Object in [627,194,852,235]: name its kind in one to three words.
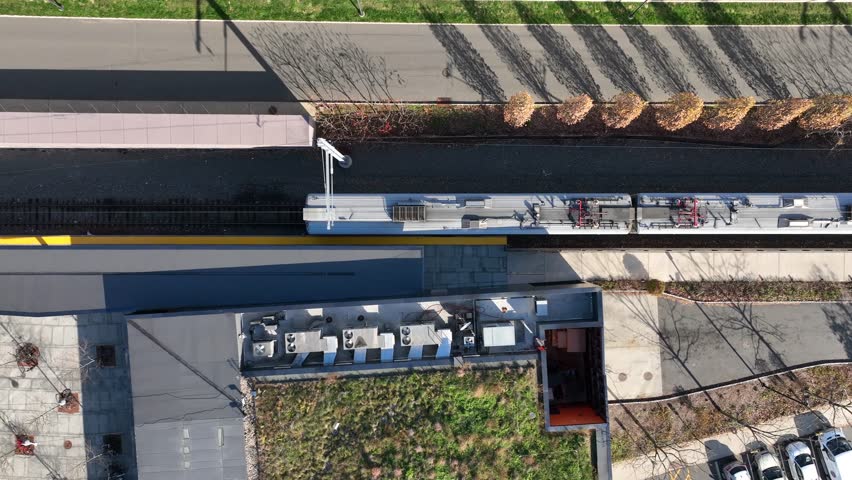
rail car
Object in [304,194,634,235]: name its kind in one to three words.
rail car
